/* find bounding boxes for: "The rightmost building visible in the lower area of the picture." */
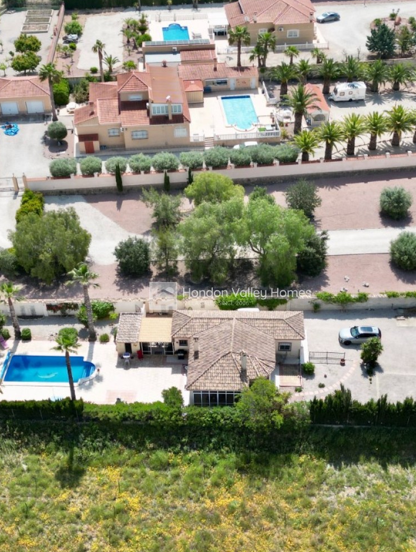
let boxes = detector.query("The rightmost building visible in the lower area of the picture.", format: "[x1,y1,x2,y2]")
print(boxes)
[171,310,305,406]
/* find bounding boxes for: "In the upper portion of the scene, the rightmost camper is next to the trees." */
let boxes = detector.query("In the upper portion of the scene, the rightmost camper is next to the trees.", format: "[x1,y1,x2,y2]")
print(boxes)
[330,80,372,103]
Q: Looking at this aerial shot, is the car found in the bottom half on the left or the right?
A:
right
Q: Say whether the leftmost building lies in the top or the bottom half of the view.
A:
top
